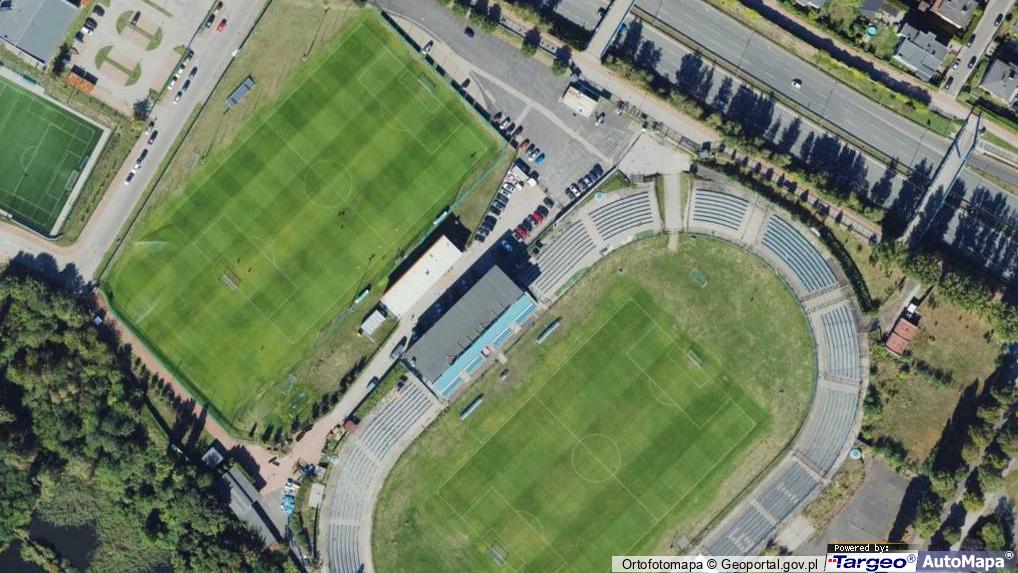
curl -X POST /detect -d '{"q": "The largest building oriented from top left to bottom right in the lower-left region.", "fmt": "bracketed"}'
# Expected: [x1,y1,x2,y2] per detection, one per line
[217,471,276,551]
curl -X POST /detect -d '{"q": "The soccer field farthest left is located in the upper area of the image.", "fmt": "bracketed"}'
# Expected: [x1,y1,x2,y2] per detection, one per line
[0,60,110,238]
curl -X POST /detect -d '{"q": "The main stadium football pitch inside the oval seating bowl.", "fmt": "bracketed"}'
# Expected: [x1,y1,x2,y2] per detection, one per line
[372,232,817,573]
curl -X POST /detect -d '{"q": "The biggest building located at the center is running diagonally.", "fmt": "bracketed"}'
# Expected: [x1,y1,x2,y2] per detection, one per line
[380,236,463,318]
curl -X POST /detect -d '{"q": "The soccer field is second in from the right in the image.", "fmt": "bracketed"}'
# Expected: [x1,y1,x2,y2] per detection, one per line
[102,6,507,431]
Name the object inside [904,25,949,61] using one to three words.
house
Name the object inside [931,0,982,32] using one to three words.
house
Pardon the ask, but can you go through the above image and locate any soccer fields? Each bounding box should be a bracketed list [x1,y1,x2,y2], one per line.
[0,60,110,238]
[372,232,817,573]
[102,6,507,431]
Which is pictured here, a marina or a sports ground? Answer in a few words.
sports ground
